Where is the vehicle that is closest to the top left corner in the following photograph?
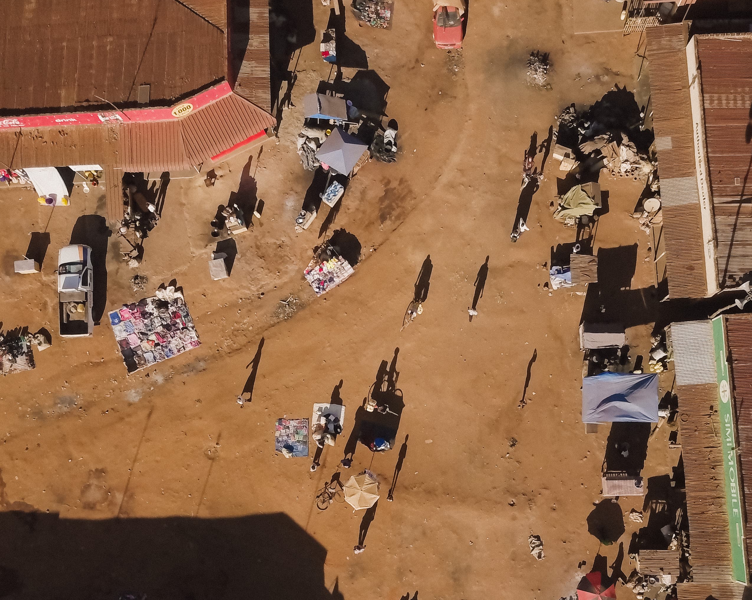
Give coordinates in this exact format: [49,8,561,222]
[53,246,94,340]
